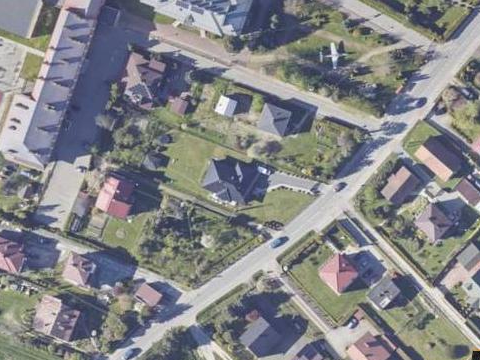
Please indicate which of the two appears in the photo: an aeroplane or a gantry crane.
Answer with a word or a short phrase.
aeroplane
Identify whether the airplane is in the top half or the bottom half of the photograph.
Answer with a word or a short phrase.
top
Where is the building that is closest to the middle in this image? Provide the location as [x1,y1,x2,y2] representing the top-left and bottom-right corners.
[203,159,257,205]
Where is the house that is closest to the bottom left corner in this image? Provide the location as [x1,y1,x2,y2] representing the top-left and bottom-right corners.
[34,294,80,341]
